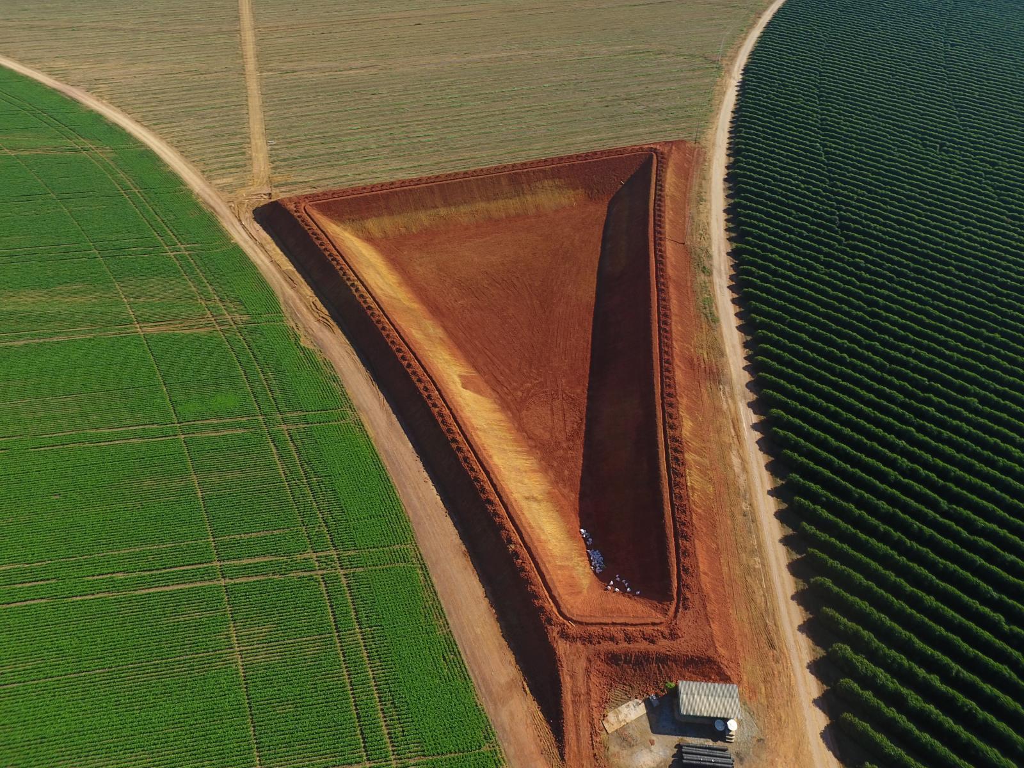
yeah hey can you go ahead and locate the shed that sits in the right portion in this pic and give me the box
[678,681,742,723]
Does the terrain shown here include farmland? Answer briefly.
Yes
